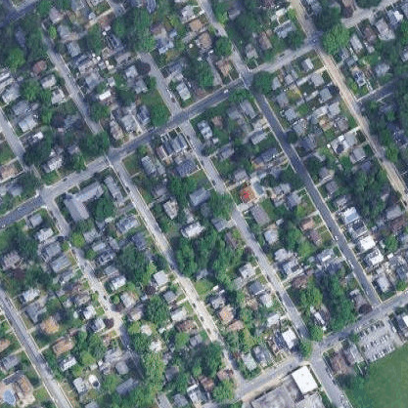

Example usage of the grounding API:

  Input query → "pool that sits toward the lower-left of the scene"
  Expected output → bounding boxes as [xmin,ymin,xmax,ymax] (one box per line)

[2,390,16,406]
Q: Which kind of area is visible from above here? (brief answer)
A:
residential area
